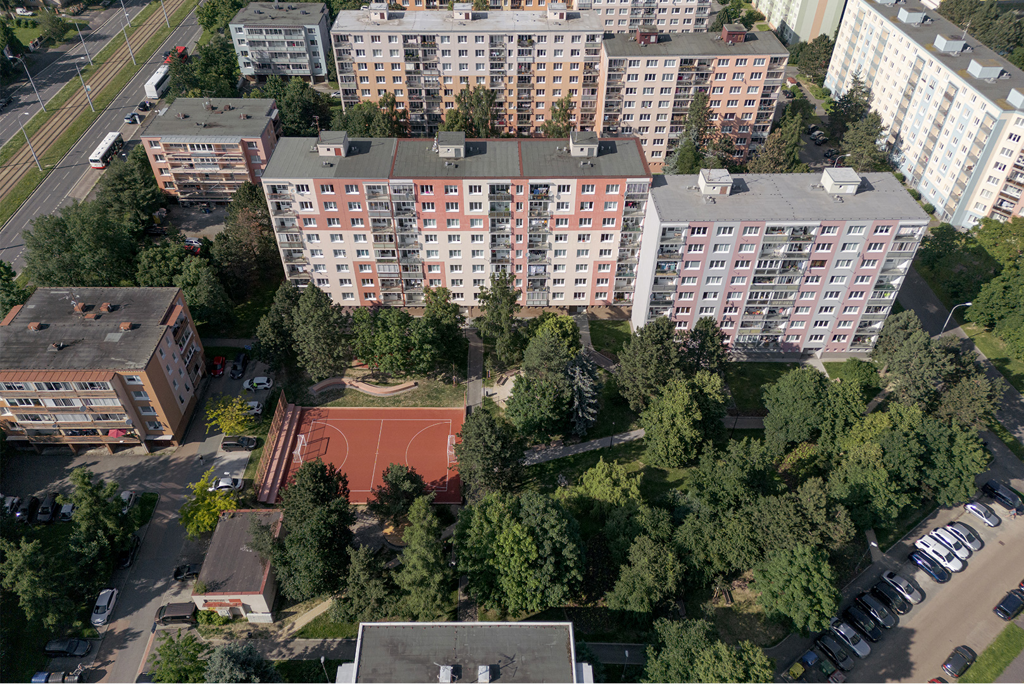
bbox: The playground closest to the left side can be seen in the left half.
[352,507,409,555]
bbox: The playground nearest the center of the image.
[493,370,528,405]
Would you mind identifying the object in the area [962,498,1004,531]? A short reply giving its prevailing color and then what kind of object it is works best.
gray car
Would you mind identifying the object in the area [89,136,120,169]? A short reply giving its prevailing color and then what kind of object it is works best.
white bus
